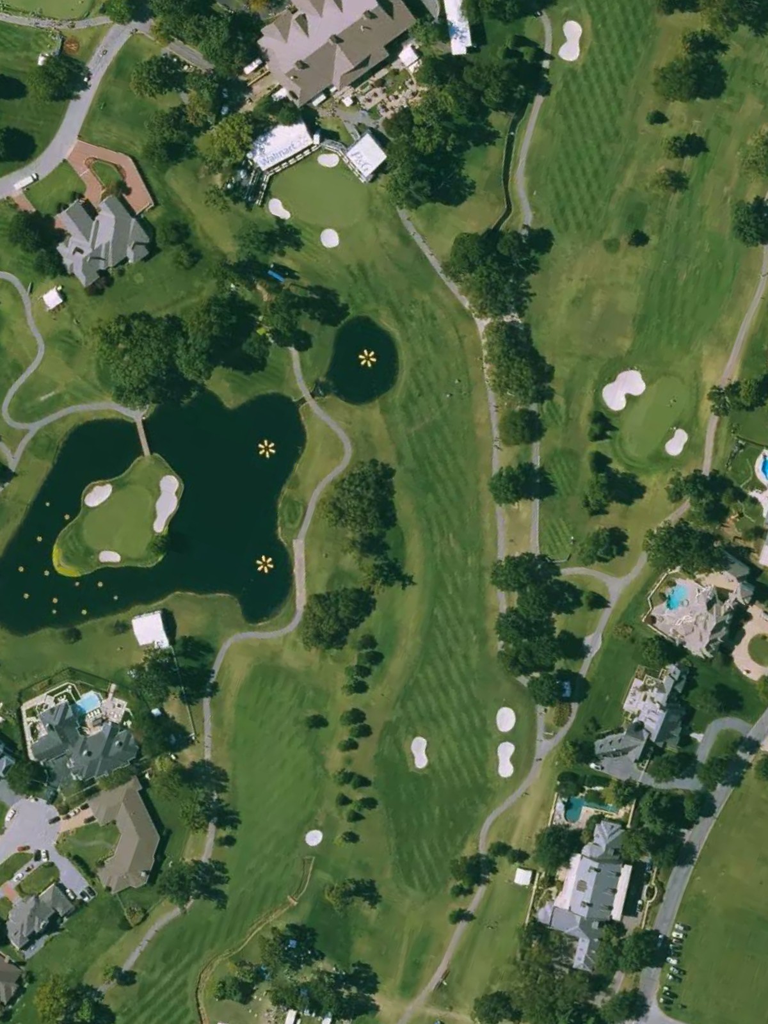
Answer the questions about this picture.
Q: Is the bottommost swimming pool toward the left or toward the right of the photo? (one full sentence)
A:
The bottommost swimming pool appears in the right half of the scene.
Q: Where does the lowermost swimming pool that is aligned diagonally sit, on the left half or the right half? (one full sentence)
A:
It is on the left.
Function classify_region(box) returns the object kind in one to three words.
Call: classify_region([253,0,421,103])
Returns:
building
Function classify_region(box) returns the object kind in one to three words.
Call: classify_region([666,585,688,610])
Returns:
swimming pool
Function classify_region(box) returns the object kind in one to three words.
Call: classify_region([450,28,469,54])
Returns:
tent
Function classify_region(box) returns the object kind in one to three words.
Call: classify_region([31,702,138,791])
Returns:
house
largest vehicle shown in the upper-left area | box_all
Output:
[15,174,38,189]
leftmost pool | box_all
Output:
[72,690,101,723]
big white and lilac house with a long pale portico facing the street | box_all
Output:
[540,820,633,974]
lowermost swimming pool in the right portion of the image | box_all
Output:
[567,797,608,822]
